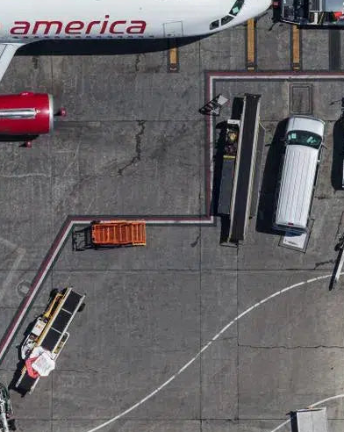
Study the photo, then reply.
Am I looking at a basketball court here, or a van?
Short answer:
van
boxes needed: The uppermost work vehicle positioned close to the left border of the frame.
[15,287,83,393]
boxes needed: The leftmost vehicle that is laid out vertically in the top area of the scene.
[221,96,267,247]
